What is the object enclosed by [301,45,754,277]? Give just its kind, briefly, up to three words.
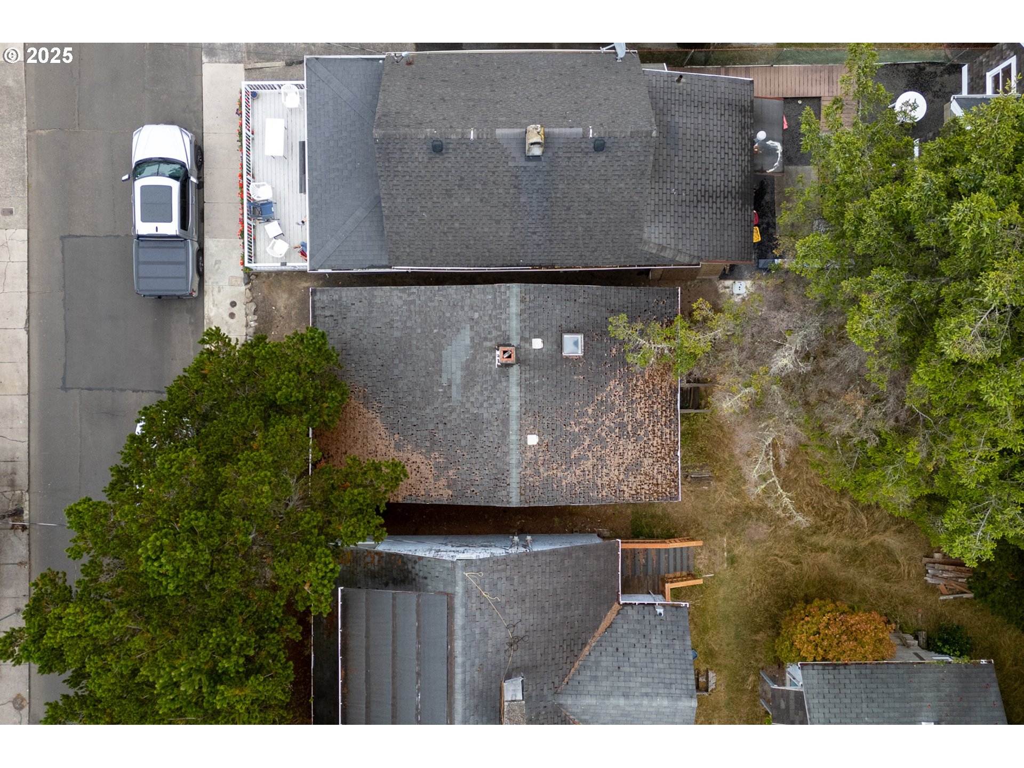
house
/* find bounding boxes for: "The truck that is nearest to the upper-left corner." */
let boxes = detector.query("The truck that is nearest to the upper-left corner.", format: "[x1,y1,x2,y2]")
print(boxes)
[123,124,205,302]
